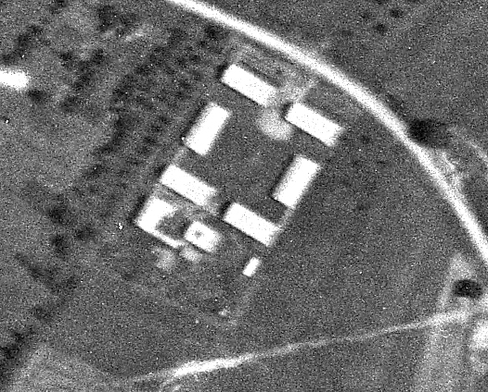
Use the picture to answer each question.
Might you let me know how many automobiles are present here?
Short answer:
0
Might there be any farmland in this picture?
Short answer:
Yes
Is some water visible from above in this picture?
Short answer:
No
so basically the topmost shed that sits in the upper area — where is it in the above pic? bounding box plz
[222,62,277,105]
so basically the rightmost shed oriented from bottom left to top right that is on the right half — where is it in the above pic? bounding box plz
[273,154,318,209]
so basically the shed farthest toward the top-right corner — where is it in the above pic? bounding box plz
[286,100,341,145]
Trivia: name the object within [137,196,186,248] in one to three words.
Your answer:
building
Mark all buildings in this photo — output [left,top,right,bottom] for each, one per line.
[137,196,186,248]
[273,154,318,209]
[243,257,261,277]
[223,202,279,246]
[222,62,277,105]
[186,101,231,153]
[185,220,220,252]
[286,100,341,145]
[160,164,215,206]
